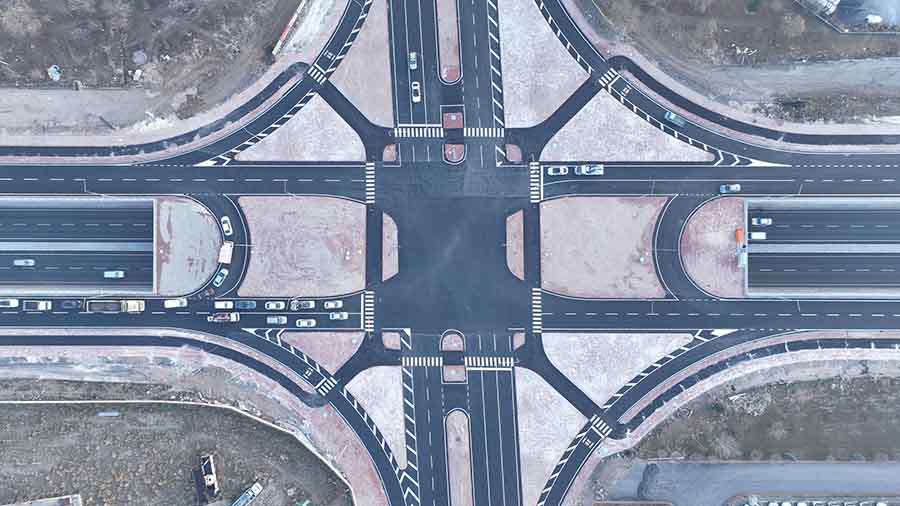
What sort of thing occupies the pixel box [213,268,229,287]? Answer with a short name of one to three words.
car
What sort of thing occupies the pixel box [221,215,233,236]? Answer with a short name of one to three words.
vehicle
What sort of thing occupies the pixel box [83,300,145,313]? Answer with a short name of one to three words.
vehicle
